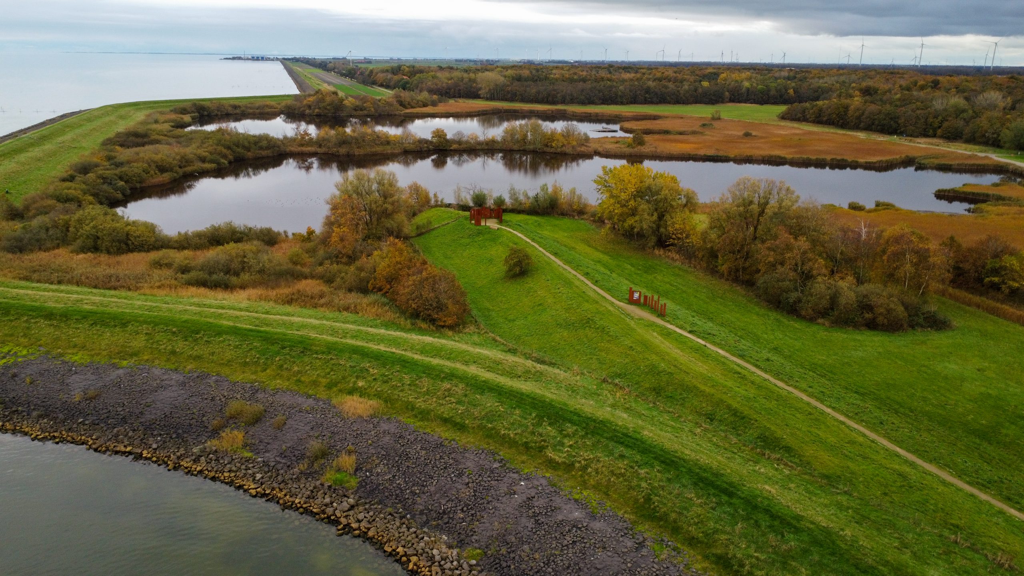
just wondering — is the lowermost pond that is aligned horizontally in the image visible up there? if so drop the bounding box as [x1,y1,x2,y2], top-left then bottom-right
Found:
[126,150,1024,234]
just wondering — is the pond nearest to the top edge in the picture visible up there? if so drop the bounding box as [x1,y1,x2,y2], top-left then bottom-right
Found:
[195,112,686,140]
